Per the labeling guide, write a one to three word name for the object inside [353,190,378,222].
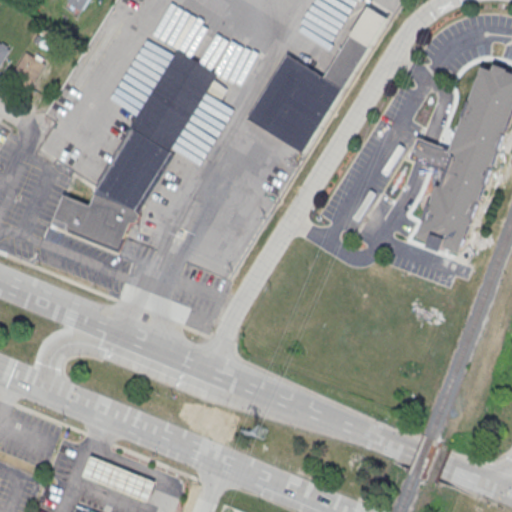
bus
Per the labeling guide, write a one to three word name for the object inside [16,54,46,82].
house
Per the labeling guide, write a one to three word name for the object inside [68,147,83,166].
vehicle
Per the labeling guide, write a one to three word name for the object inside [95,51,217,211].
building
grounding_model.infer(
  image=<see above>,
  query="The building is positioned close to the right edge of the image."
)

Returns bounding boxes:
[412,64,512,256]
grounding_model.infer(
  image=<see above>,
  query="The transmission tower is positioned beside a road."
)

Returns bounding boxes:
[237,424,274,443]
